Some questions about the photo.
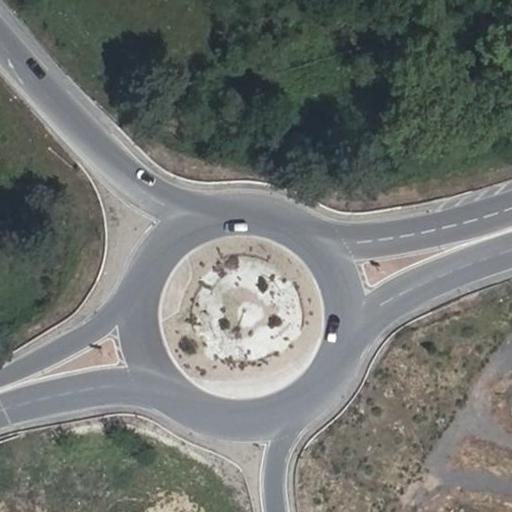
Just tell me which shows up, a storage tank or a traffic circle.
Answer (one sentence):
Looking from above, you can make out a traffic circle.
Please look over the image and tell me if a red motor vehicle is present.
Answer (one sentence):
No, the scene contains no red motor vehicle.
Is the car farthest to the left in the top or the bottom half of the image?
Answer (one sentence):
The car farthest to the left sits in the top half of the picture.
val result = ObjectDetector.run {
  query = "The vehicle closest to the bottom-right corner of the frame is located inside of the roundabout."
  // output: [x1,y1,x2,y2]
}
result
[328,314,340,342]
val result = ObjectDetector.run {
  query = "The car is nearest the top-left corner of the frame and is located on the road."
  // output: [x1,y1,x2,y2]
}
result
[26,58,46,79]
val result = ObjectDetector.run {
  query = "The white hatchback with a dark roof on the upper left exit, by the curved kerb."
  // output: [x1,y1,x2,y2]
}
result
[135,168,157,186]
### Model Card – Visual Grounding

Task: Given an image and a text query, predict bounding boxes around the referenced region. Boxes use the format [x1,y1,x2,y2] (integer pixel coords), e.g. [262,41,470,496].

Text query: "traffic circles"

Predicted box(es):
[118,194,364,440]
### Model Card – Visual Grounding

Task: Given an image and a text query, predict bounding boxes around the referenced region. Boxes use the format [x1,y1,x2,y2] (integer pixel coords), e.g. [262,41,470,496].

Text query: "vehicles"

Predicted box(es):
[328,314,340,342]
[26,58,46,79]
[226,222,248,233]
[135,168,157,186]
